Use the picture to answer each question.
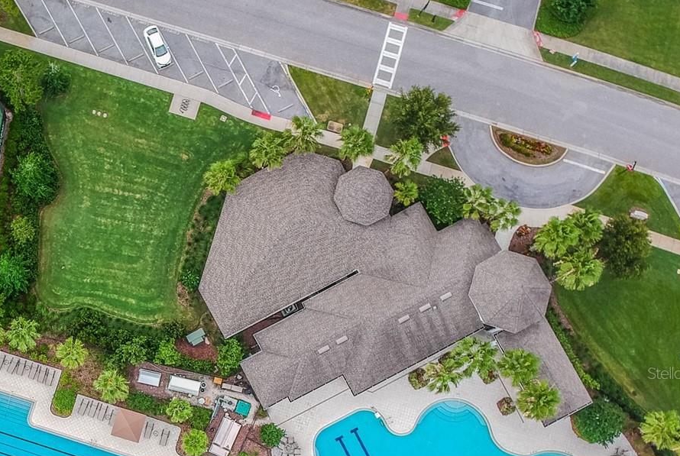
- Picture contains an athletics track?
No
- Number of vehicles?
1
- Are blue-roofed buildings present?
No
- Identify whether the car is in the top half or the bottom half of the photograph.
top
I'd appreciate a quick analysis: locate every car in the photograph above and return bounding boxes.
[142,21,173,70]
